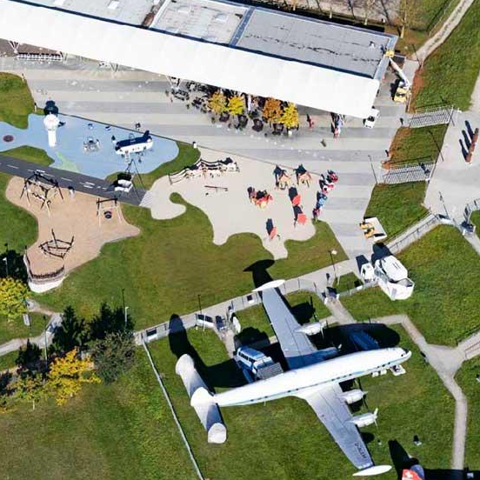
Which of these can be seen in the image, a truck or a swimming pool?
truck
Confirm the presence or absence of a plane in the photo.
Yes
